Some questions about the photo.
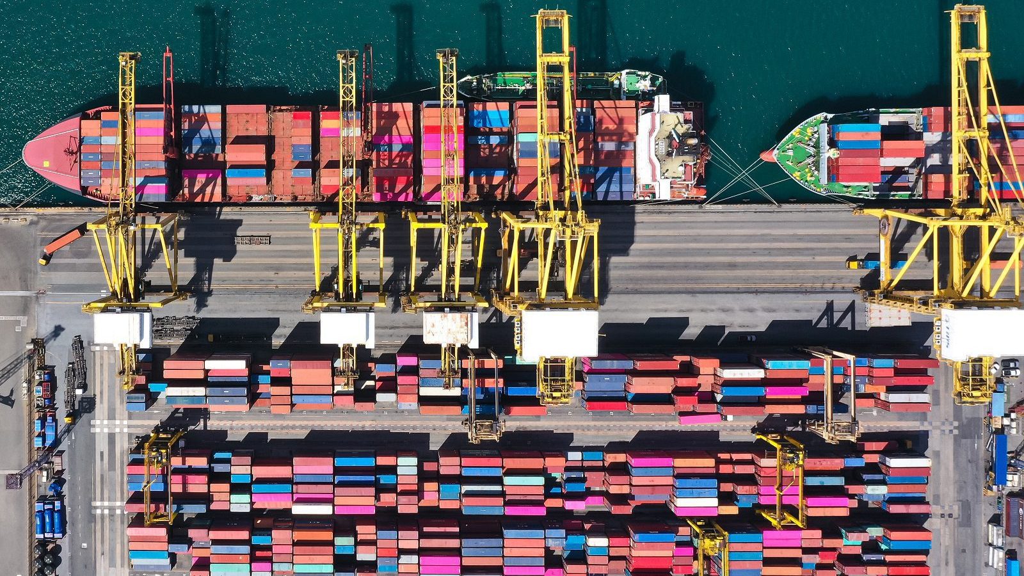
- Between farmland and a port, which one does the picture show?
port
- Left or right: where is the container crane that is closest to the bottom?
right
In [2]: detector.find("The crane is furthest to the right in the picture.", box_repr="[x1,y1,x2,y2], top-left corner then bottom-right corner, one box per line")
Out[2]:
[853,2,1024,417]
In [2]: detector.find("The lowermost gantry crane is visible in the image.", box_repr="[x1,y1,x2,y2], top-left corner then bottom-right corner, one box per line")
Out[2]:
[678,514,726,576]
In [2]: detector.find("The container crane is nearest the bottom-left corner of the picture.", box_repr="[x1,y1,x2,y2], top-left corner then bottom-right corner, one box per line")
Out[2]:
[143,428,186,525]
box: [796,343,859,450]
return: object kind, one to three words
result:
container crane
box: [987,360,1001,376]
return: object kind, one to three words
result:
car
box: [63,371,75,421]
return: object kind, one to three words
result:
vehicle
